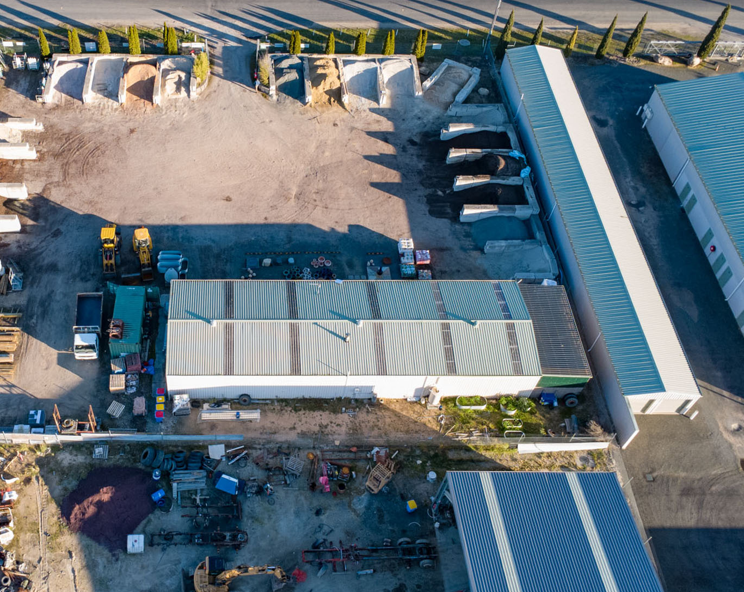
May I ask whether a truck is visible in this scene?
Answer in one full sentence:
Yes, I can see a truck in this picture.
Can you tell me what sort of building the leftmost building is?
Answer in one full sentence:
The leftmost building is a warehouse.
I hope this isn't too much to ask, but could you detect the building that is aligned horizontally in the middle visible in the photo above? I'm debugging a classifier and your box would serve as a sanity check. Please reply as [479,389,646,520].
[166,274,543,400]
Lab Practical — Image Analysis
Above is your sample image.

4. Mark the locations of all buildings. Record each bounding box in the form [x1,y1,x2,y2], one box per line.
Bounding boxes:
[501,46,704,447]
[166,274,543,400]
[643,74,744,337]
[420,469,667,592]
